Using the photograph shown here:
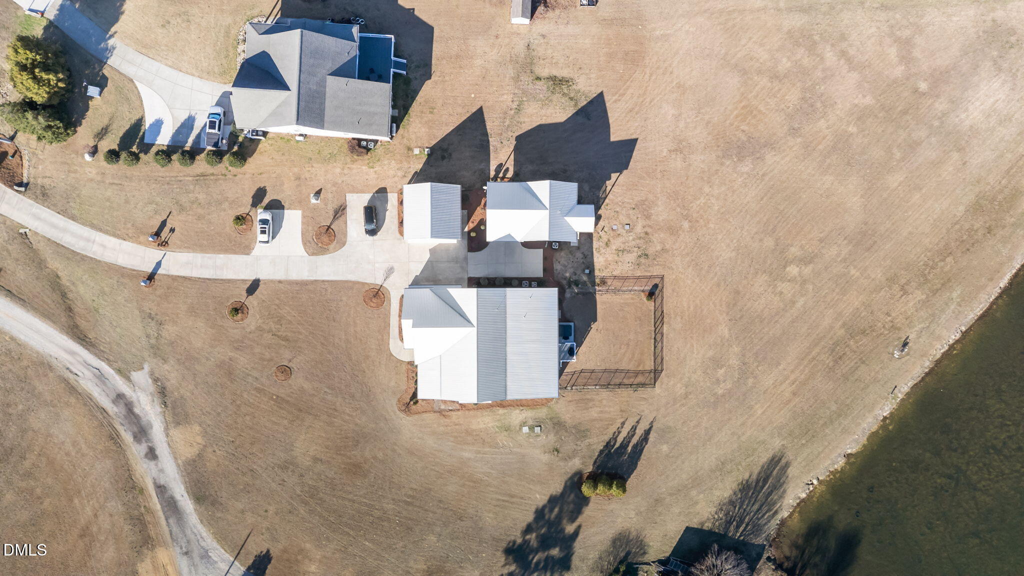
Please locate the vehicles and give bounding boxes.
[257,211,275,244]
[206,107,225,149]
[363,206,379,237]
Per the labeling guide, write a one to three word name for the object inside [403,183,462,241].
building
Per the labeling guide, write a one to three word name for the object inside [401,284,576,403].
house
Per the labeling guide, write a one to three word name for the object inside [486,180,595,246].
house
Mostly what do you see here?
grass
